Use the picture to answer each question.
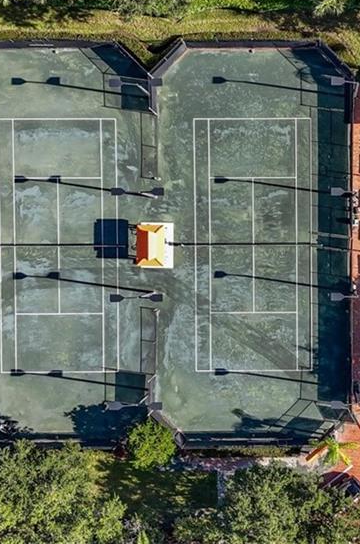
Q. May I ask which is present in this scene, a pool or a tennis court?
tennis court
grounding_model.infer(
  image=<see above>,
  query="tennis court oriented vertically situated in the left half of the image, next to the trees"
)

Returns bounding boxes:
[0,48,157,436]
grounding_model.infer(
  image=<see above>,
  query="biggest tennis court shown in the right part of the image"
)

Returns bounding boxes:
[158,47,351,437]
